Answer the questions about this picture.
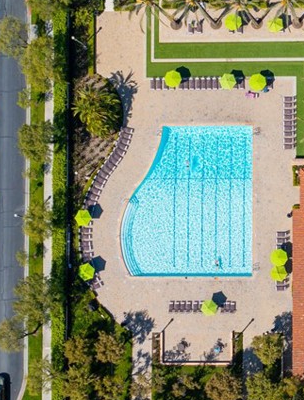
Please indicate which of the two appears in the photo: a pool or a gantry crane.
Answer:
pool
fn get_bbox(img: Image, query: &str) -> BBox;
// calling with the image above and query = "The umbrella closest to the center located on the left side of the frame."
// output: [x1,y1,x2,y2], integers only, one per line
[76,210,92,227]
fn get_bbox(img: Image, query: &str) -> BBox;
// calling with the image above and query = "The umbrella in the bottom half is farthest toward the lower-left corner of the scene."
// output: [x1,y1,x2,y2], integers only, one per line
[79,262,96,279]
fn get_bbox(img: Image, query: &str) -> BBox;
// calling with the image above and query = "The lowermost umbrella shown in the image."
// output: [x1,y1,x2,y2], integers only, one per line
[202,300,219,316]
